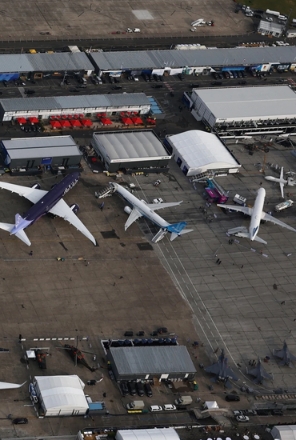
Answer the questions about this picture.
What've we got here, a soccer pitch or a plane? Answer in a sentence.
The image shows a plane.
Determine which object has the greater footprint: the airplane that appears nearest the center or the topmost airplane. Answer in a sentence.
Compared with the topmost airplane, the airplane that appears nearest the center is the bigger one.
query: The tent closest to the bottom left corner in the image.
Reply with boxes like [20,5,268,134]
[30,374,91,417]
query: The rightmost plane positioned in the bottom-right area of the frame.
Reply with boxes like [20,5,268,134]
[273,342,296,370]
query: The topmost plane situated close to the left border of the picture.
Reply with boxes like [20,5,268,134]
[0,170,94,249]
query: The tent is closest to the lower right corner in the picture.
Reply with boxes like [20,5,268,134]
[270,420,296,440]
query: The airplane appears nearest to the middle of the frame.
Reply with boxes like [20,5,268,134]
[110,182,192,241]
